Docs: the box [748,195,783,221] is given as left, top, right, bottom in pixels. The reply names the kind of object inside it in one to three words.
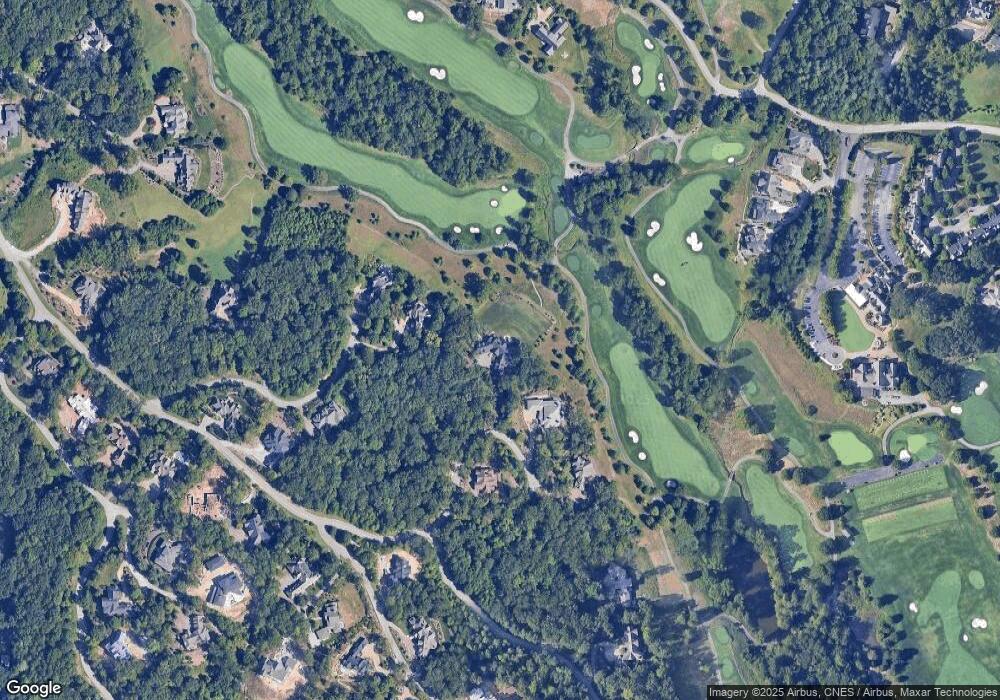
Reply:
house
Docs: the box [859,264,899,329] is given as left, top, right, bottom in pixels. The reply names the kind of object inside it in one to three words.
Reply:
building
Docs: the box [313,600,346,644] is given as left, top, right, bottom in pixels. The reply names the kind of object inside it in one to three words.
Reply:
house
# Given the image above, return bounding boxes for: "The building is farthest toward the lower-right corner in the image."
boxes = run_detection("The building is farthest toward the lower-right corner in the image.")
[855,360,901,391]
